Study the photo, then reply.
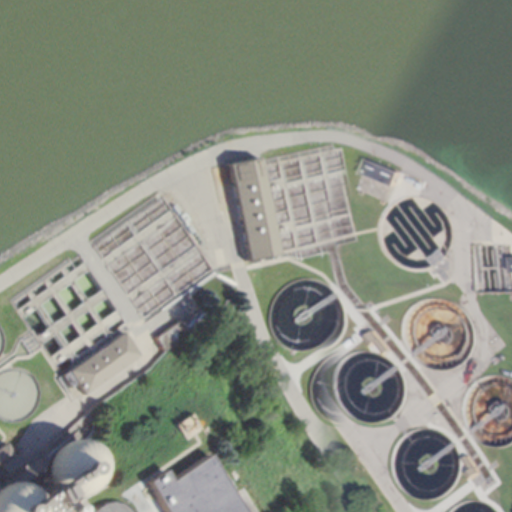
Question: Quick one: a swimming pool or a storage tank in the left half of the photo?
storage tank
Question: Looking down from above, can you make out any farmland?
No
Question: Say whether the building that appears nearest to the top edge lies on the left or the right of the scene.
right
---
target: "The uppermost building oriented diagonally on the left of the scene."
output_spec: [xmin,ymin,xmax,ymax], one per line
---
[69,336,138,396]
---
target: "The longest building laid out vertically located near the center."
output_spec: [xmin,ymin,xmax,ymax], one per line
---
[228,160,274,261]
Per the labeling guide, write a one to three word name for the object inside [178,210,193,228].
vehicle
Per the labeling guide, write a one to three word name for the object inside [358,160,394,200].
building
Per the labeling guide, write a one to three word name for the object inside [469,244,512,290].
storage tank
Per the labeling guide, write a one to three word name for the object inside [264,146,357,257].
storage tank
